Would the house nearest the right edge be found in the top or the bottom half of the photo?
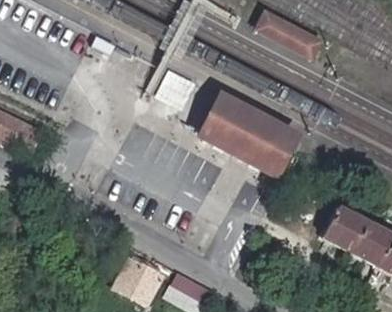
bottom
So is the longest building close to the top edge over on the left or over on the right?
right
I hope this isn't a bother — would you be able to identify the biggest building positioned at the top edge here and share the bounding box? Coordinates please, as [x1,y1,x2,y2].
[254,10,324,64]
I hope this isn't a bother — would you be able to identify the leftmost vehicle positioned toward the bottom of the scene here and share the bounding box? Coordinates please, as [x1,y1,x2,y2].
[108,180,122,202]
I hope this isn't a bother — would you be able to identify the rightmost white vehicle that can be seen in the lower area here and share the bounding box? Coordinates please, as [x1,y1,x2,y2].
[167,205,182,230]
